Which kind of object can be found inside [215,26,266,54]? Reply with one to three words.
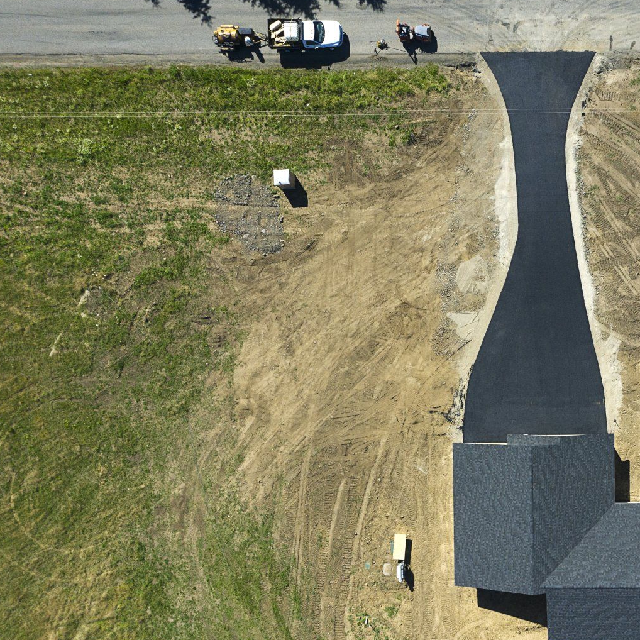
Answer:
trailer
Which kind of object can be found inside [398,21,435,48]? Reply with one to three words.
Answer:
work vehicle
